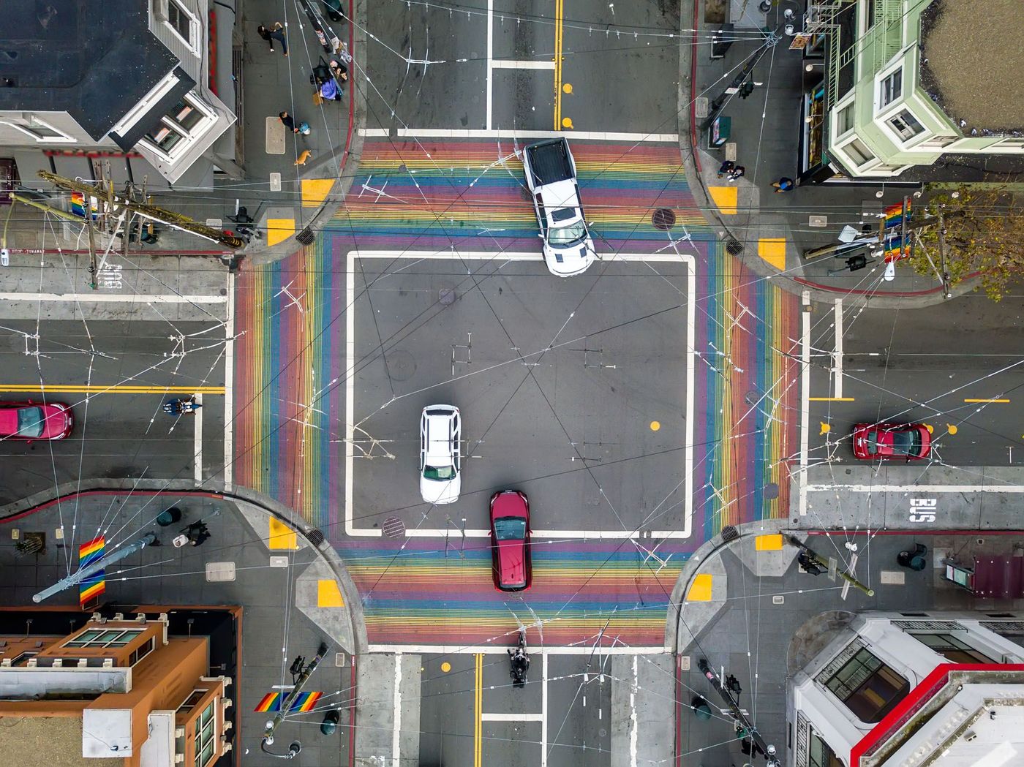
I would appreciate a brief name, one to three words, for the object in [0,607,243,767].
building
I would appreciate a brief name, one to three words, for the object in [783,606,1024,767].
building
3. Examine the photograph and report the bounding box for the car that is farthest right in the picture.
[850,420,929,464]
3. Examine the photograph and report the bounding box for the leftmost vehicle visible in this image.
[0,396,75,444]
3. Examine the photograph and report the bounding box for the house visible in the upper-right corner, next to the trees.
[796,0,1024,191]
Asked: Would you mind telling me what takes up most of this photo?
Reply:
paved ground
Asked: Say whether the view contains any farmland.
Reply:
No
